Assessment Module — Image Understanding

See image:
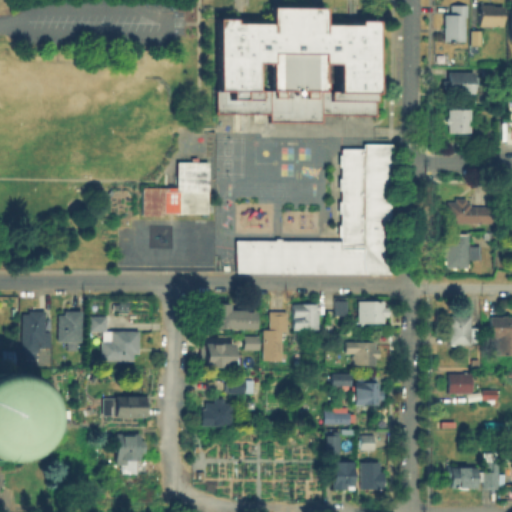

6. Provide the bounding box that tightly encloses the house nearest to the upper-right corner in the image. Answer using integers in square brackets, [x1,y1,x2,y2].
[482,3,509,27]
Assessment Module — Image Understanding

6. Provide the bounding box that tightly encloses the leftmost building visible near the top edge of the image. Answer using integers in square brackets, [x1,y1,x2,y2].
[218,8,384,122]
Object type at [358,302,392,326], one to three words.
house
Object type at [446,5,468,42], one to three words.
house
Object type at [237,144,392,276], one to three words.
building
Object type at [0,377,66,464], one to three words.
water tower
